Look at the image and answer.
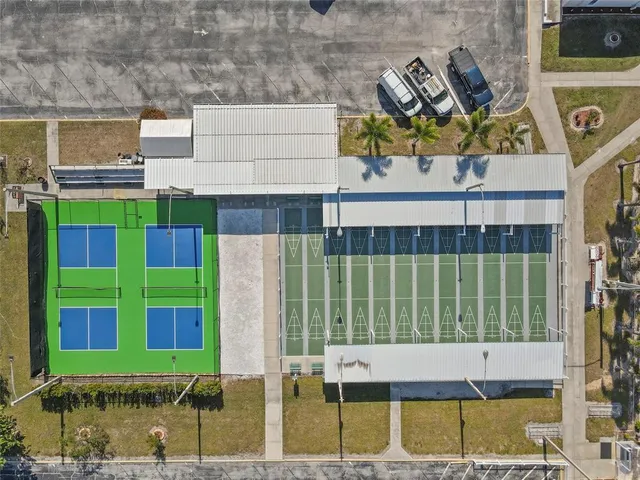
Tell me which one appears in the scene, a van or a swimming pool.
van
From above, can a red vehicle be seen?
No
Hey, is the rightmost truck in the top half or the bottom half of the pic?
top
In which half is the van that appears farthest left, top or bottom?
top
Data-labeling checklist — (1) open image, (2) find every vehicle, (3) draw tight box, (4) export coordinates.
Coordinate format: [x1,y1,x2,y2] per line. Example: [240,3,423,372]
[378,67,419,114]
[404,56,452,114]
[446,44,491,106]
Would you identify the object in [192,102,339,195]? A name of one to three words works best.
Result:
building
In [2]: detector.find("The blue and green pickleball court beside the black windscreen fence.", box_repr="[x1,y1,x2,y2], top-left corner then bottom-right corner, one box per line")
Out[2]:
[58,224,118,350]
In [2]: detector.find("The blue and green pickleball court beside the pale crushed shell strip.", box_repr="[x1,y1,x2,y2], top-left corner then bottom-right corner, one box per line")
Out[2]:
[145,224,204,350]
